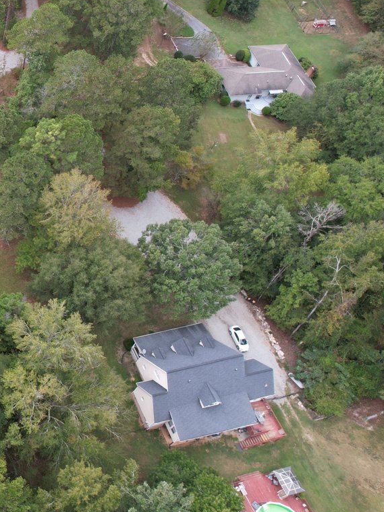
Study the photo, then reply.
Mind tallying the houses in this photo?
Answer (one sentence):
The photo contains 2 houses.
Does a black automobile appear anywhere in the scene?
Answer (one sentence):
No, the photo shows no black automobile.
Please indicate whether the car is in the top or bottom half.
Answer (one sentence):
It is in the bottom half that the car appears.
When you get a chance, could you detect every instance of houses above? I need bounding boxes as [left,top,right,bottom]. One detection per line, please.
[219,44,328,115]
[130,322,279,445]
